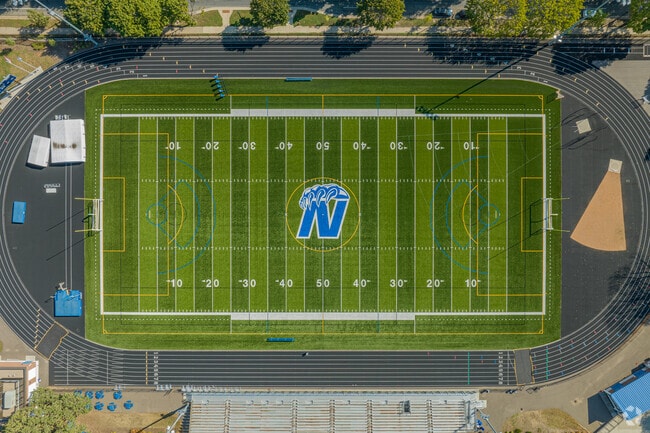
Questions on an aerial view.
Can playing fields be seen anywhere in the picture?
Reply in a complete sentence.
Yes, a playing field can be made out from above.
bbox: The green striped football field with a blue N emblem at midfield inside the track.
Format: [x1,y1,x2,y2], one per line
[84,79,561,350]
